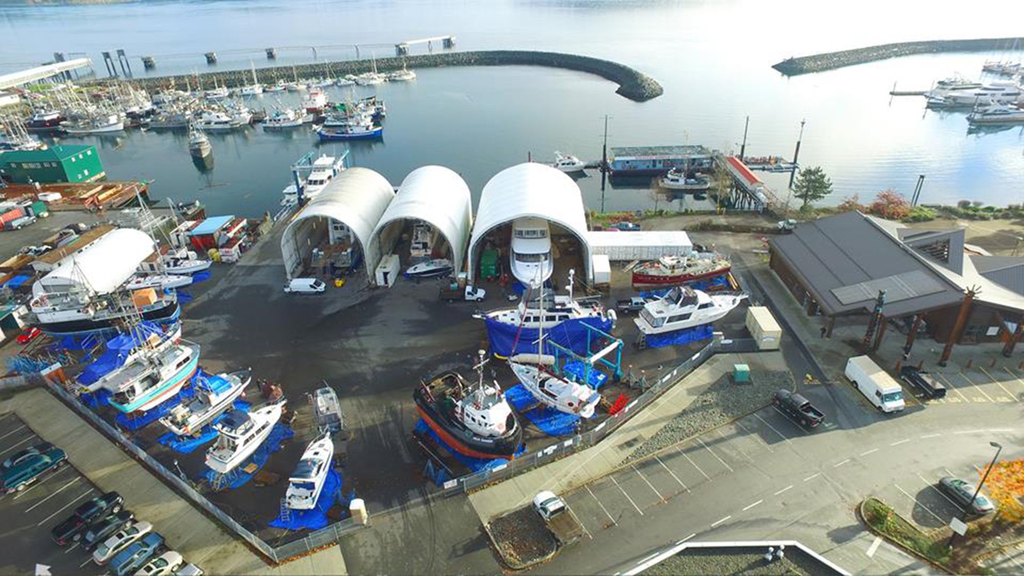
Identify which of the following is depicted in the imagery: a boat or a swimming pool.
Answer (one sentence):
I can see a boat in this picture.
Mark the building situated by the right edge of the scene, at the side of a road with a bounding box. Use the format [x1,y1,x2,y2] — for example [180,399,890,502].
[769,209,1024,354]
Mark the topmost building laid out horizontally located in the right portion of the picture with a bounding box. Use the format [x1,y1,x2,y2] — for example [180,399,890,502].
[606,142,719,177]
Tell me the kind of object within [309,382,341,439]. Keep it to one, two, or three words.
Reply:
boat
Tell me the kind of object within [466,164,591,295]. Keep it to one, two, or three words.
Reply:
shed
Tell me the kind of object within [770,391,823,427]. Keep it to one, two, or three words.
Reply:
truck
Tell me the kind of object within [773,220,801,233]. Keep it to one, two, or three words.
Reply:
vehicle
